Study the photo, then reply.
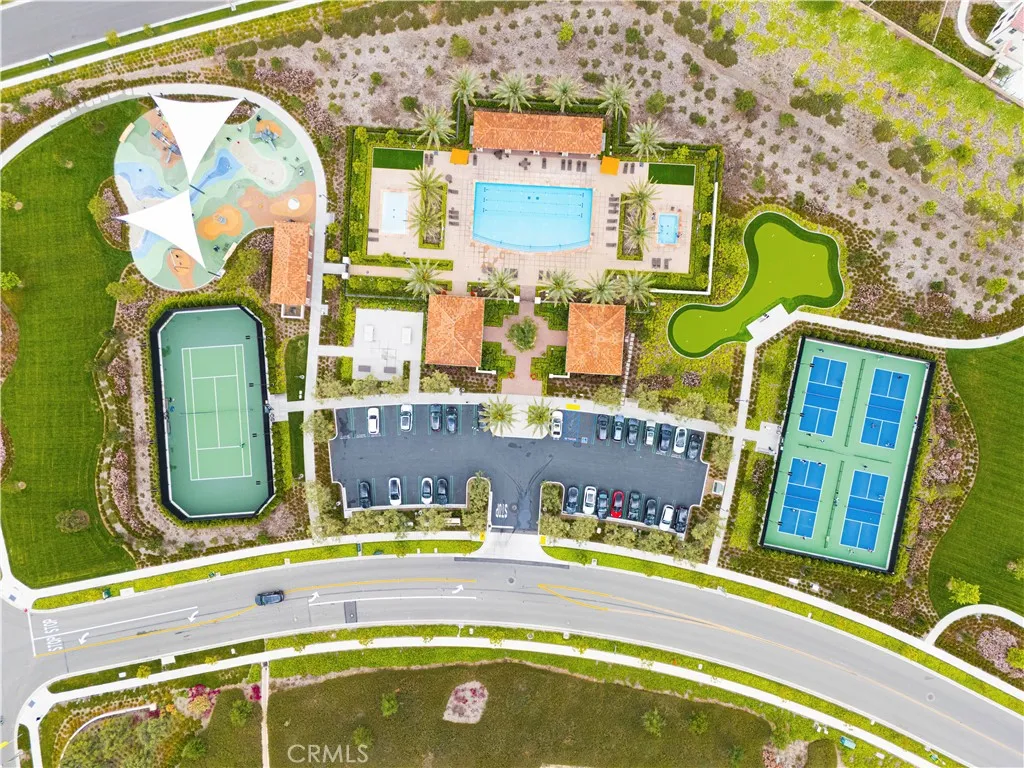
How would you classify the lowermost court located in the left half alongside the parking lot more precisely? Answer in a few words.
tennis court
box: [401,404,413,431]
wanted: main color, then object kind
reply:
white vehicle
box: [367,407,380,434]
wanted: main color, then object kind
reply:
white vehicle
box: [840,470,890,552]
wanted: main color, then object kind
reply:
blue sports court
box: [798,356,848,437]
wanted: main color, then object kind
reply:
blue sports court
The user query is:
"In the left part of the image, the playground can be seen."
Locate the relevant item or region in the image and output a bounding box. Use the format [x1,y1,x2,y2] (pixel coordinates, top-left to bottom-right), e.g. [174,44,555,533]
[112,108,318,292]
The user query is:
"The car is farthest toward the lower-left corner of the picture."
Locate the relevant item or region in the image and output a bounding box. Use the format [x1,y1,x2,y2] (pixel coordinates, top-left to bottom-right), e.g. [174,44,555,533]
[255,590,284,605]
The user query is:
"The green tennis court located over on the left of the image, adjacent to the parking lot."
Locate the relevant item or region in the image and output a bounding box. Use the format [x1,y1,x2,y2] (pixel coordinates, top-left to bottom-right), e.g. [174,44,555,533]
[157,308,269,518]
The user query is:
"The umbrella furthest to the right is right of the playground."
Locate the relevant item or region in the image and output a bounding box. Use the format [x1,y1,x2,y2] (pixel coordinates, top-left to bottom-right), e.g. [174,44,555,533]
[600,156,620,176]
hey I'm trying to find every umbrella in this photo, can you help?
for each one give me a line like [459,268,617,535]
[600,156,620,176]
[450,147,469,166]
